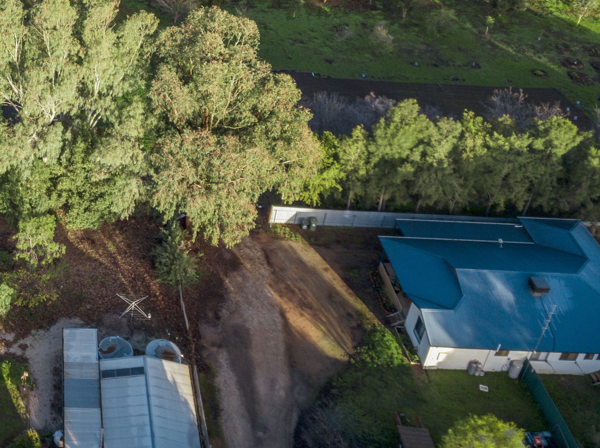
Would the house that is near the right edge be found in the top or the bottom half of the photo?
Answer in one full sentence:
Seen from above, the house that is near the right edge lies in the bottom half of the view.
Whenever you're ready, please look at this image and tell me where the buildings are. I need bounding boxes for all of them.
[382,412,433,448]
[372,216,600,376]
[61,327,203,448]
